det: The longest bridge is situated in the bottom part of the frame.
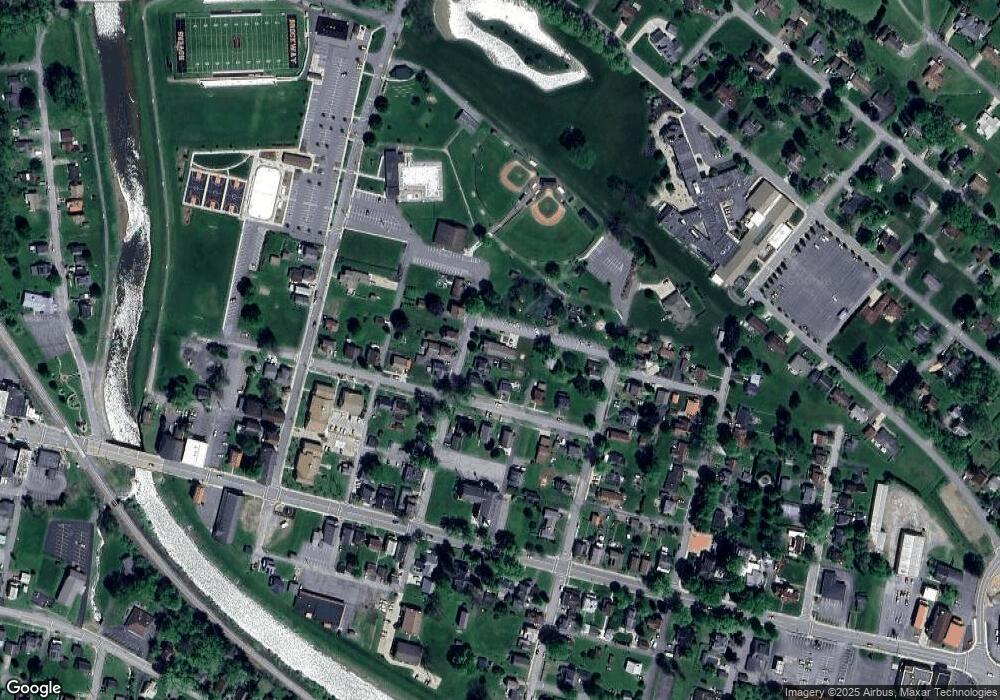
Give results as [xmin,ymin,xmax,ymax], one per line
[85,438,166,474]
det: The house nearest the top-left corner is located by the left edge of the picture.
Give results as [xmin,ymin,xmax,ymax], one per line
[3,80,24,104]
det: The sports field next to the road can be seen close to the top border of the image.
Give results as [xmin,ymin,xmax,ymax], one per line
[173,11,302,78]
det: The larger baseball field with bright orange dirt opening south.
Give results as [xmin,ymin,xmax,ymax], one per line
[496,188,597,262]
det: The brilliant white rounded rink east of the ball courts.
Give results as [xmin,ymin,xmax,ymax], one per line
[249,166,281,220]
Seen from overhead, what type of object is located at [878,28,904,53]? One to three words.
house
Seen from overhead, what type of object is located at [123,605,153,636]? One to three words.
building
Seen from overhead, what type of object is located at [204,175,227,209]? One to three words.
basketball court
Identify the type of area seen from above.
residential area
